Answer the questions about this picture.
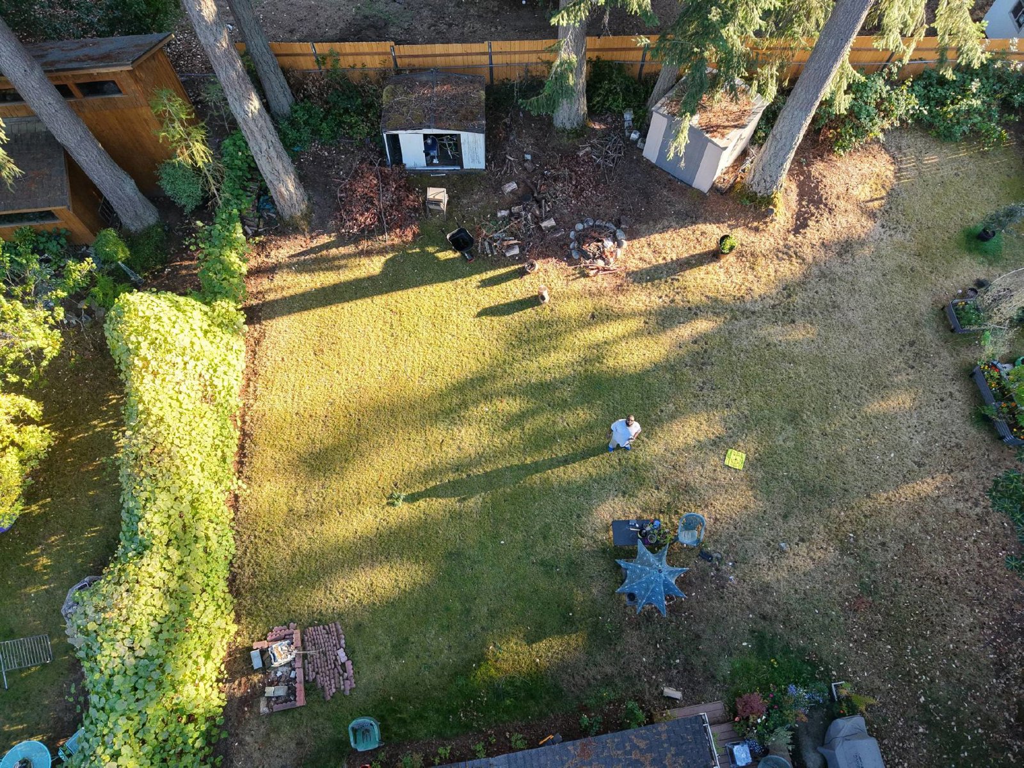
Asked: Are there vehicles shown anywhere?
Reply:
No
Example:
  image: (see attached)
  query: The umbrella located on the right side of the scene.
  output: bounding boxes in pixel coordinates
[615,539,689,616]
